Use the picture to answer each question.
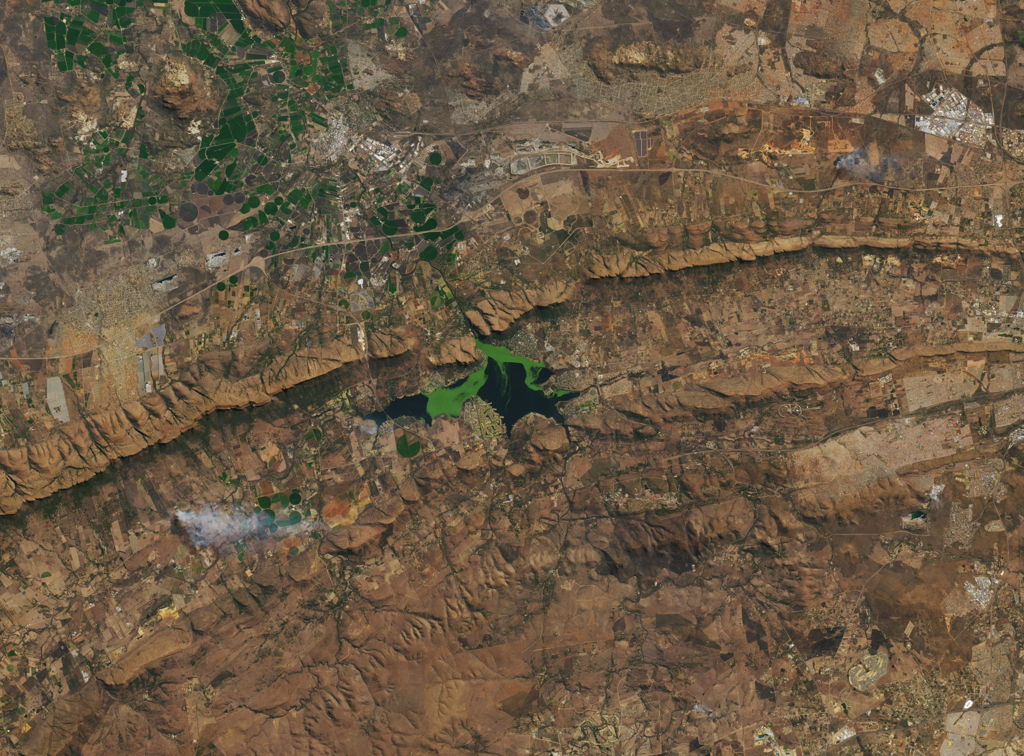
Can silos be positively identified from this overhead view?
No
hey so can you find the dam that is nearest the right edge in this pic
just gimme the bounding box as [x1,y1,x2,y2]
[544,3,570,27]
